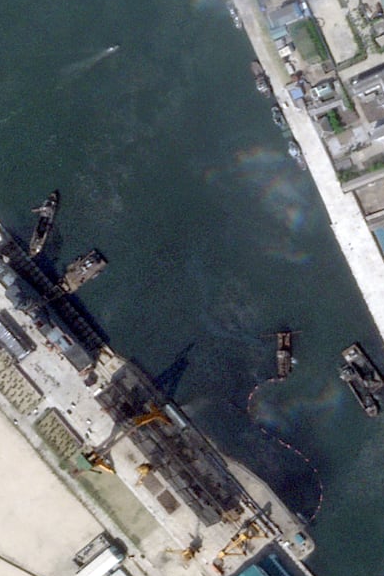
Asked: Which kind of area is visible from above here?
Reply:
port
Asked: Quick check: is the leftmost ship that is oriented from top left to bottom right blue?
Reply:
No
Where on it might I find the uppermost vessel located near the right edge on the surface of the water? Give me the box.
[342,343,383,392]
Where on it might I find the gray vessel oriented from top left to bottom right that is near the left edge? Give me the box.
[0,260,101,378]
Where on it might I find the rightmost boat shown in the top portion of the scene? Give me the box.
[288,141,305,170]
